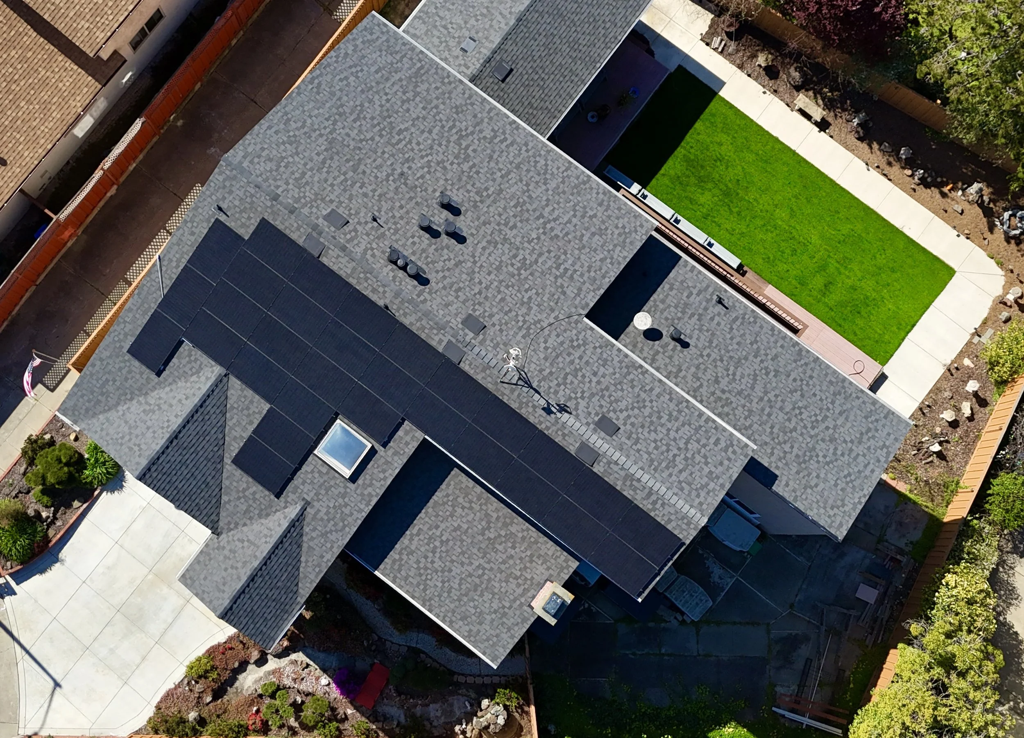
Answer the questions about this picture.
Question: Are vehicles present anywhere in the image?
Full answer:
No, the frame has no vehicle in it.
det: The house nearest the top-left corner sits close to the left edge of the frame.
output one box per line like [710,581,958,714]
[0,0,201,244]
